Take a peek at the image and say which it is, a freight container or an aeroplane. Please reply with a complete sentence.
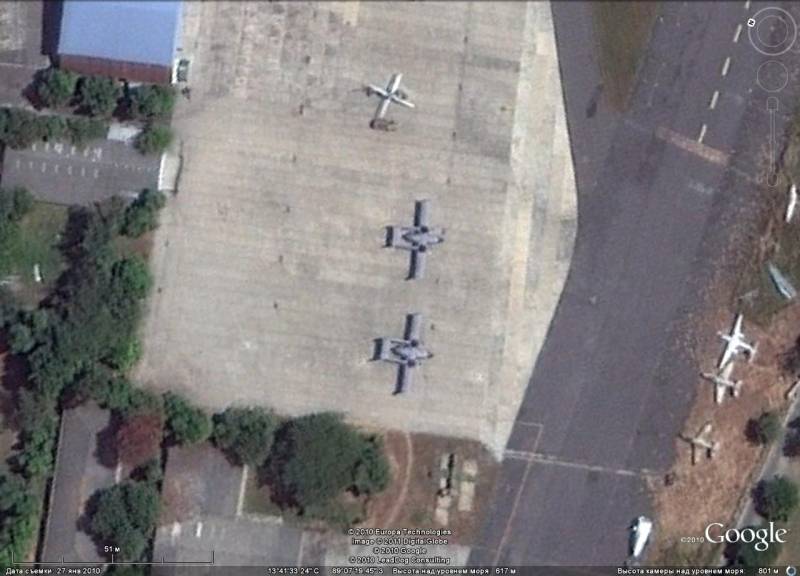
Looking from above, you can make out an aeroplane.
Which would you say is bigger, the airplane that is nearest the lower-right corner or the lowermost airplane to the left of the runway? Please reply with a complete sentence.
Compared with the airplane that is nearest the lower-right corner, the lowermost airplane to the left of the runway is the larger one.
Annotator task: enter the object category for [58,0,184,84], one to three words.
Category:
hangar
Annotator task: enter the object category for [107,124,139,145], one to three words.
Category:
shed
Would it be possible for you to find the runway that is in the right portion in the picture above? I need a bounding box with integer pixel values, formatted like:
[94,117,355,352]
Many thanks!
[467,0,800,576]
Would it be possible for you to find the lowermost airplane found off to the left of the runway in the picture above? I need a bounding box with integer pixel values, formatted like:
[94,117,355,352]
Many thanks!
[380,314,435,393]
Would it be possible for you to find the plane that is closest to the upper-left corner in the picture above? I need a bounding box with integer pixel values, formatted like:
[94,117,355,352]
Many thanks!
[364,73,415,118]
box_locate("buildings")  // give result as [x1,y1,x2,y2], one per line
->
[58,0,184,84]
[107,124,139,145]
